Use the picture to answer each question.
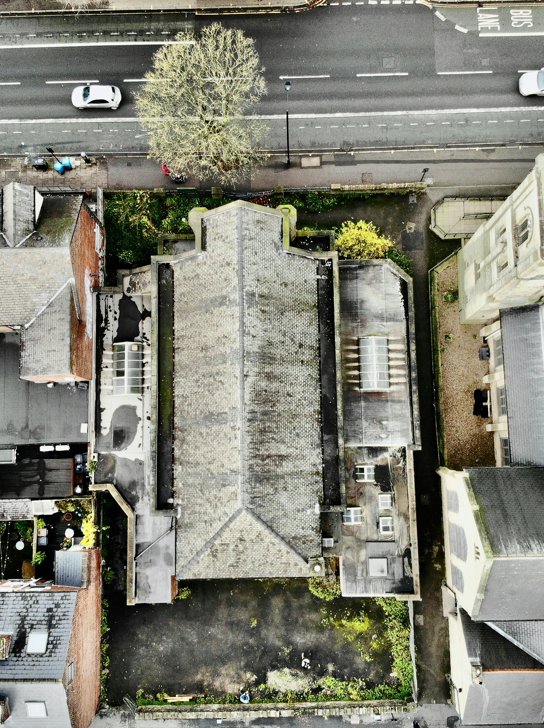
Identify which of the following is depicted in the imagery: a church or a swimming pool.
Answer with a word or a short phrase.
church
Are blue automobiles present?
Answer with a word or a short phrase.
No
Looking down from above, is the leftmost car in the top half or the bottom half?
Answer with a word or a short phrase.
top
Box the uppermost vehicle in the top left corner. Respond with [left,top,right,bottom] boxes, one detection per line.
[70,83,123,112]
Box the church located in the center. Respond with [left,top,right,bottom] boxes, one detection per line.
[89,201,422,604]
